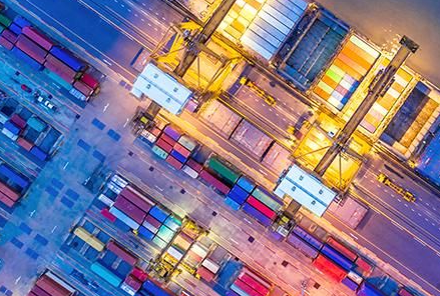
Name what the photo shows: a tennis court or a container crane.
container crane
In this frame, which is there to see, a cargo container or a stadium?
cargo container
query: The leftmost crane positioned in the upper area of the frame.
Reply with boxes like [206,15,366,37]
[127,0,259,137]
